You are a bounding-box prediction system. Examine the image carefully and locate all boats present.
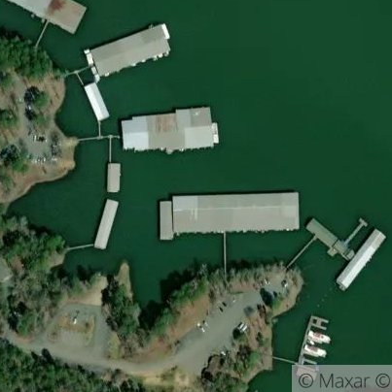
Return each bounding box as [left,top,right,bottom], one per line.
[304,346,326,356]
[309,333,329,342]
